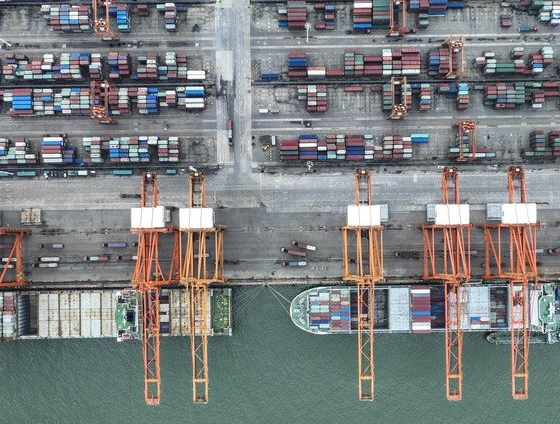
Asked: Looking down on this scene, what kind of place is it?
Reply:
port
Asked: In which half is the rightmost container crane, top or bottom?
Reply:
bottom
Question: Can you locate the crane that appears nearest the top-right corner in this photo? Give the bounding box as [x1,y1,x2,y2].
[439,36,466,84]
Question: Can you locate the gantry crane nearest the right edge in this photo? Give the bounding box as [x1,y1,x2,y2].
[476,166,542,401]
